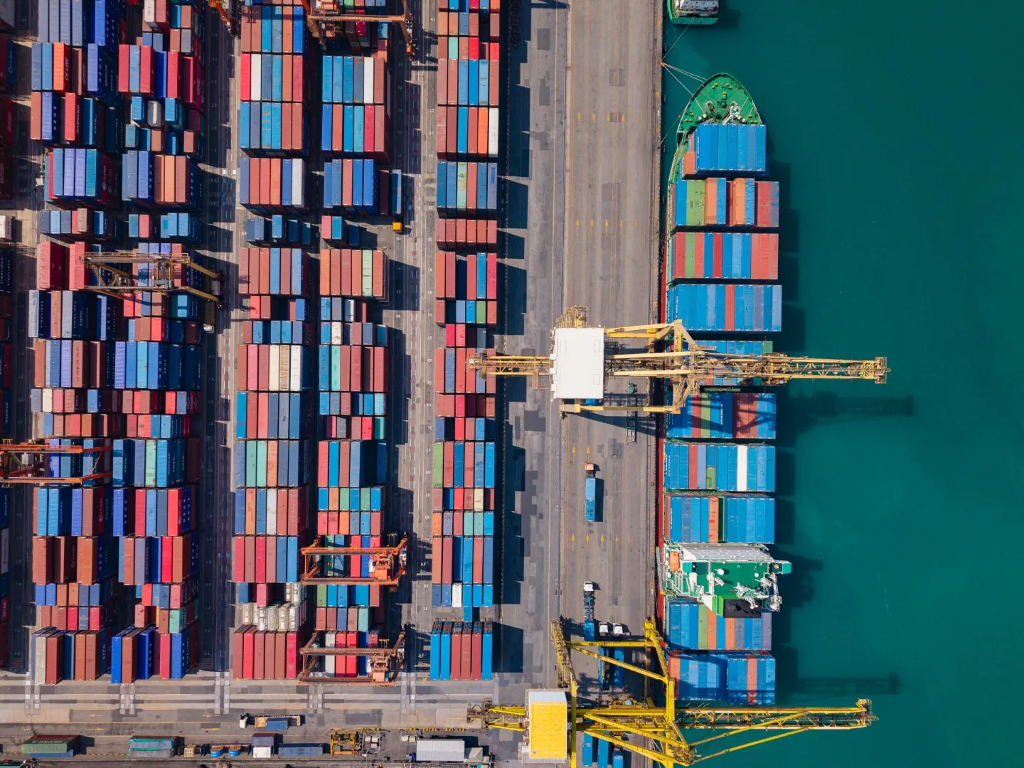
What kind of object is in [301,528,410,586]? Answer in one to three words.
container crane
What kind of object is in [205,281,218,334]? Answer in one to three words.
vehicle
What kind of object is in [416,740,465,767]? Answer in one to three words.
shed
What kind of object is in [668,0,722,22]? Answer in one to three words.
ship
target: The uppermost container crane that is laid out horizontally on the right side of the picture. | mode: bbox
[472,309,897,419]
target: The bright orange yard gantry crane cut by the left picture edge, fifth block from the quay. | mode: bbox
[0,433,127,486]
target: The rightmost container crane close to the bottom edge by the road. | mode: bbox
[467,614,884,768]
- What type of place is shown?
port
